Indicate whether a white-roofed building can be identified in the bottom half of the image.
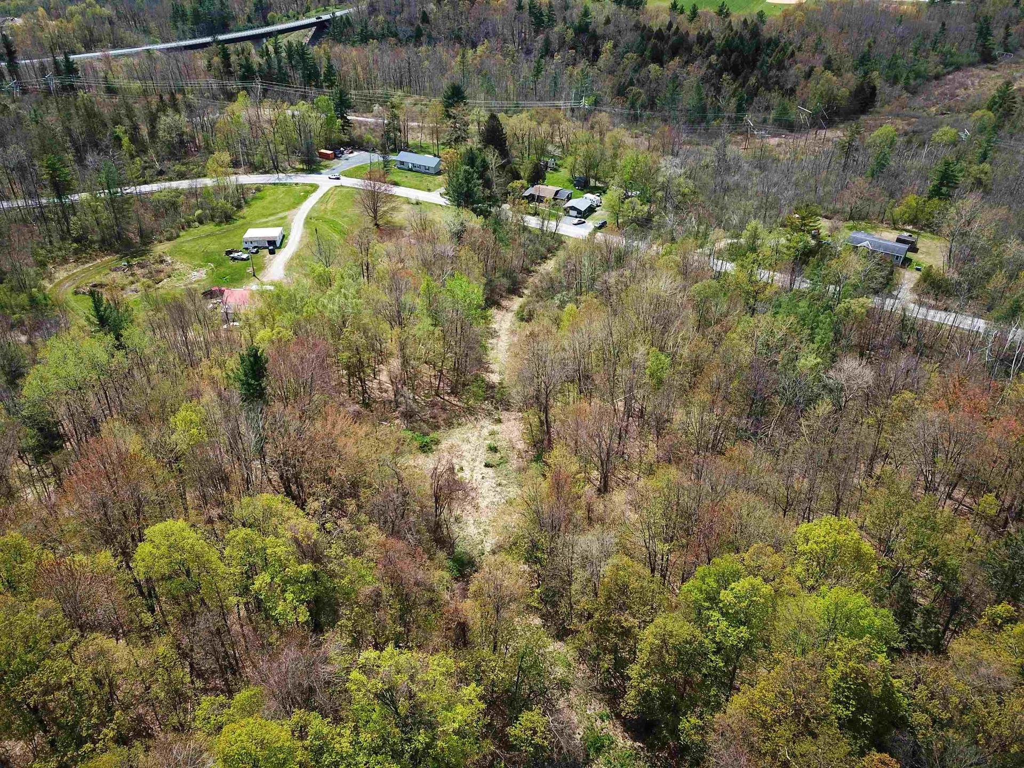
No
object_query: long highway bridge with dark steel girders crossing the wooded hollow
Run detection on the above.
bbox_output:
[214,17,324,48]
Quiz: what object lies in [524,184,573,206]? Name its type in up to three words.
house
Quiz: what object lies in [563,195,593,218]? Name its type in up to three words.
building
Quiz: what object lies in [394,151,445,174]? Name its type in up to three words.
house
